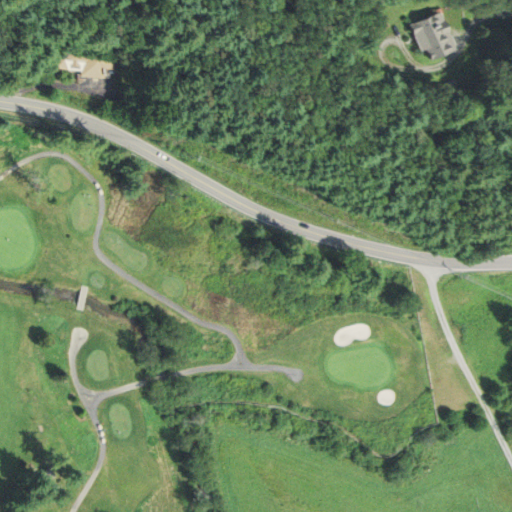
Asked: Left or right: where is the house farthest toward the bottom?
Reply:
left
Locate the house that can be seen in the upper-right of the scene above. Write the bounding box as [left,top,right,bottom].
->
[411,7,458,61]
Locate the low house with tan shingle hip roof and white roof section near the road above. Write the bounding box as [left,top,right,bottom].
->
[58,53,114,80]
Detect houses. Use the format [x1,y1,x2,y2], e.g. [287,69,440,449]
[58,53,114,80]
[411,7,458,61]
